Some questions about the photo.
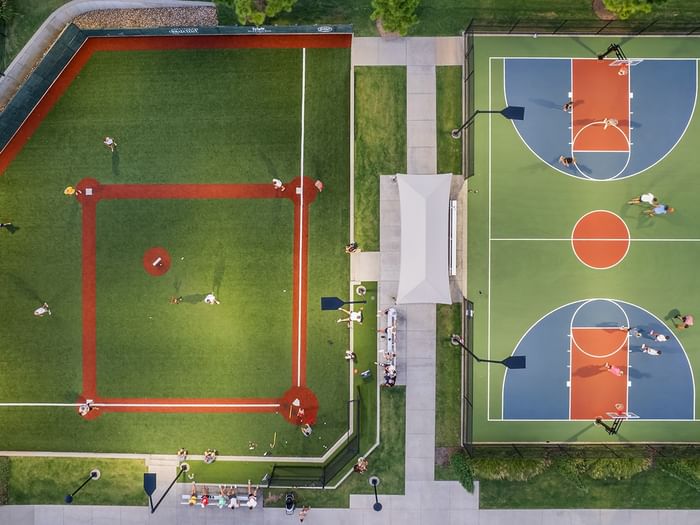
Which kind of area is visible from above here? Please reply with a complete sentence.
This image shows a sports ground.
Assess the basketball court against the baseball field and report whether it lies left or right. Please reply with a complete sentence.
It is on the right side of the baseball field that the basketball court is positioned.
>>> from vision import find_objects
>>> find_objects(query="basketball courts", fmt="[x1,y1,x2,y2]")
[464,36,700,444]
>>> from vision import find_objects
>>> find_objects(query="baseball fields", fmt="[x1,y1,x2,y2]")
[0,36,378,485]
